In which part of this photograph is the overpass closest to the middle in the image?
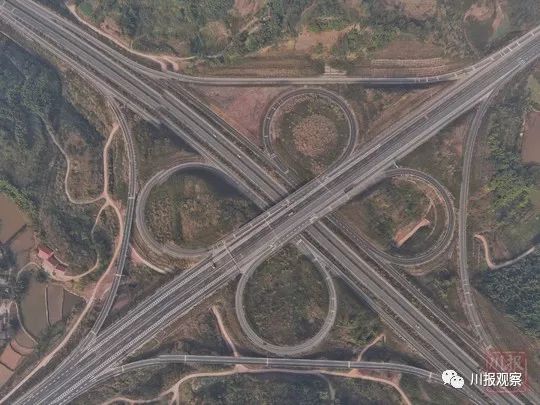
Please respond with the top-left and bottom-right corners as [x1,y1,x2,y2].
[219,176,339,272]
